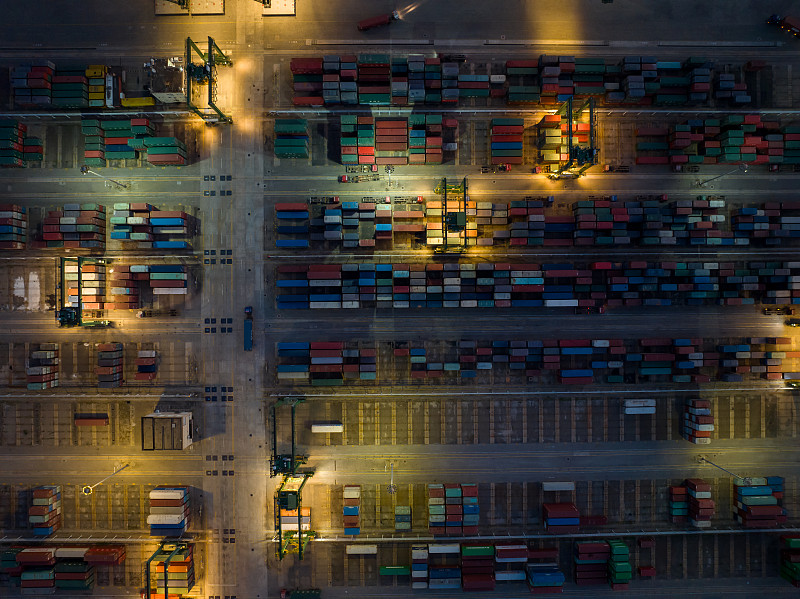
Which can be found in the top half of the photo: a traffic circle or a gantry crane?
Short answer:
gantry crane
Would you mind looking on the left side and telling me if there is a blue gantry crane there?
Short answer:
No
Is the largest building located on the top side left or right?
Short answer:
left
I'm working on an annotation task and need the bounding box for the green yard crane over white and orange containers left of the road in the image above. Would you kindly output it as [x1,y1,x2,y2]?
[53,255,112,328]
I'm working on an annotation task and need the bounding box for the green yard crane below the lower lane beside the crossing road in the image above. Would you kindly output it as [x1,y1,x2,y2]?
[273,472,313,562]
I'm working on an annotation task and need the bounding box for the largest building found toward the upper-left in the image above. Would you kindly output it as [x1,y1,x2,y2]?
[150,59,188,107]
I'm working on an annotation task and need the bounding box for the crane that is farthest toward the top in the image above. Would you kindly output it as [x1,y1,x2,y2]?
[184,39,232,124]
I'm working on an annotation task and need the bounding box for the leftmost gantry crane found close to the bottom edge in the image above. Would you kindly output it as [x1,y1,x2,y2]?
[140,543,191,599]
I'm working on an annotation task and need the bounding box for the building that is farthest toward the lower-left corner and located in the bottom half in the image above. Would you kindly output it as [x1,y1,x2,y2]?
[141,412,195,450]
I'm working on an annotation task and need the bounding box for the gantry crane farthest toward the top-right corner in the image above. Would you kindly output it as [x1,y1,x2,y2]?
[552,94,598,177]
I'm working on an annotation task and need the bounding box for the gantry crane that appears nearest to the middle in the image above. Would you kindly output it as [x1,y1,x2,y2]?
[436,177,472,252]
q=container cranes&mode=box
[140,543,191,599]
[267,396,308,476]
[53,255,112,328]
[436,177,472,252]
[552,94,598,177]
[184,39,232,124]
[273,472,313,562]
